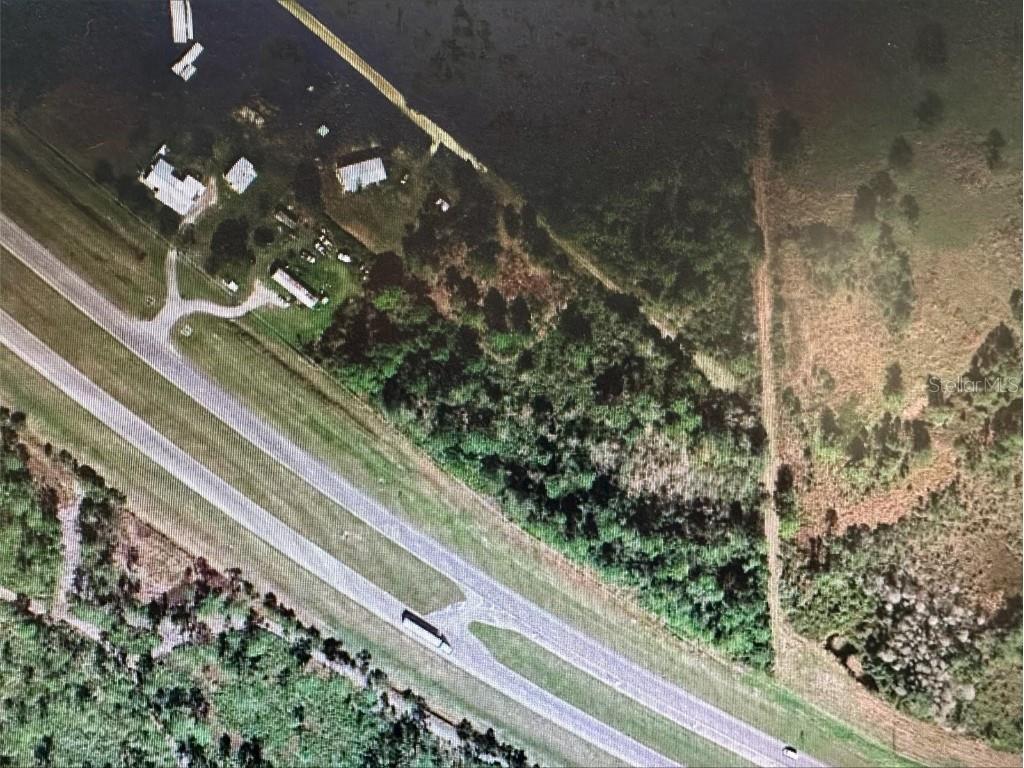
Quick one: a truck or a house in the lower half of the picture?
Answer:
truck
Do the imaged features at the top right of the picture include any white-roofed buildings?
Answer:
No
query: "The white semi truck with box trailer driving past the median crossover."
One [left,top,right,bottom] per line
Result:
[400,617,453,655]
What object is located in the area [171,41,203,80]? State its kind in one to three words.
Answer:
shed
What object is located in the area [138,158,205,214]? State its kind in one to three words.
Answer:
house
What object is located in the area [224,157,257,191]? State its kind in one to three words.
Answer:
building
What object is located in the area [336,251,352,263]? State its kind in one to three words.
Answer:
vehicle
